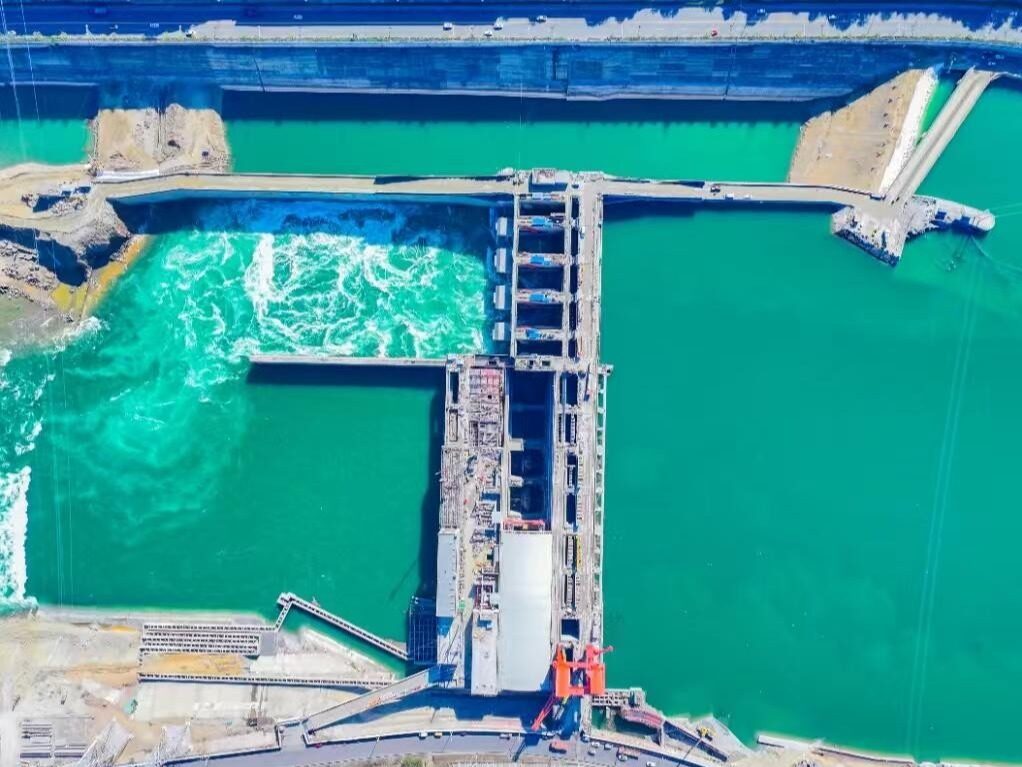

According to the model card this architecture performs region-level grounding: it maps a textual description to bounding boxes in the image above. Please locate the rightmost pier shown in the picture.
[914,198,994,233]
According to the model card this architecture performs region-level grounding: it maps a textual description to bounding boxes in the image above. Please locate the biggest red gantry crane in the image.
[532,636,613,731]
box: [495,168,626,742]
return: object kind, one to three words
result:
dam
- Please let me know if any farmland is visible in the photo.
No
